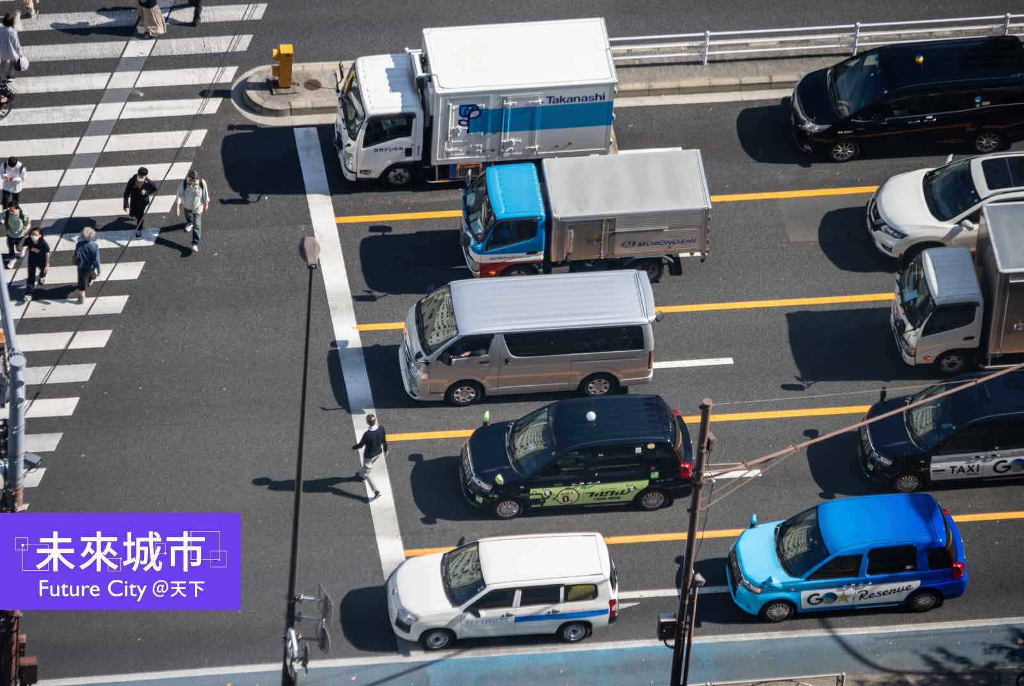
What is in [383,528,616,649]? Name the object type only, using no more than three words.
car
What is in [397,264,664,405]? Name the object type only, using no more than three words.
vehicle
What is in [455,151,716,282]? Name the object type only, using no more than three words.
truck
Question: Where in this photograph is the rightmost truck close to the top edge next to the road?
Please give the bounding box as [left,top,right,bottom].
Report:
[332,16,620,194]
